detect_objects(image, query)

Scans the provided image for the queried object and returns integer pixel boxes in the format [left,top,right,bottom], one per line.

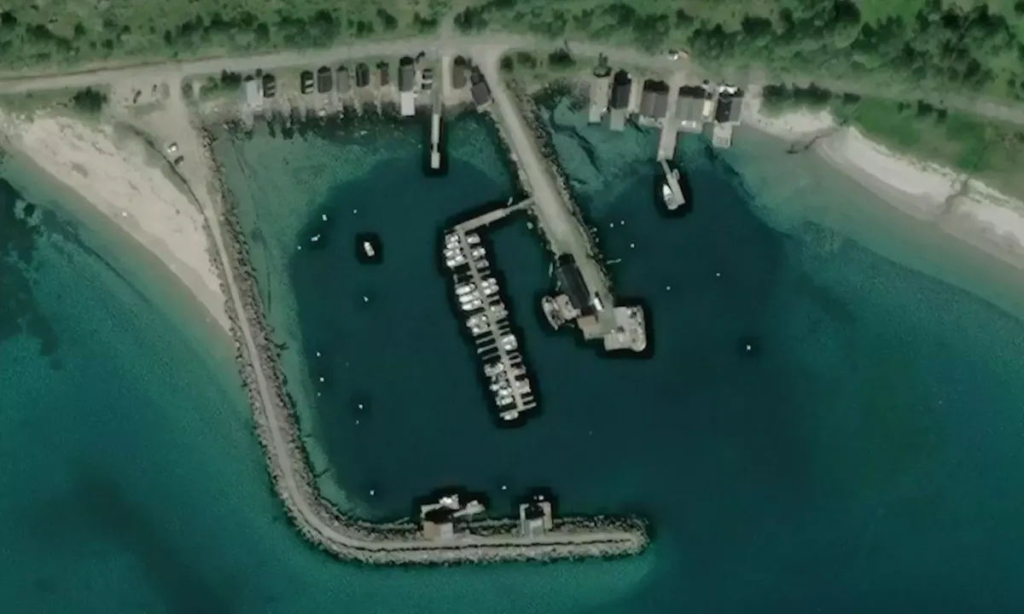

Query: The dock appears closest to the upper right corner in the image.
[713,123,741,147]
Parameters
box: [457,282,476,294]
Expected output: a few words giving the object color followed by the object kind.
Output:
white boat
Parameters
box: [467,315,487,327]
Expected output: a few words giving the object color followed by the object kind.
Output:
white boat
